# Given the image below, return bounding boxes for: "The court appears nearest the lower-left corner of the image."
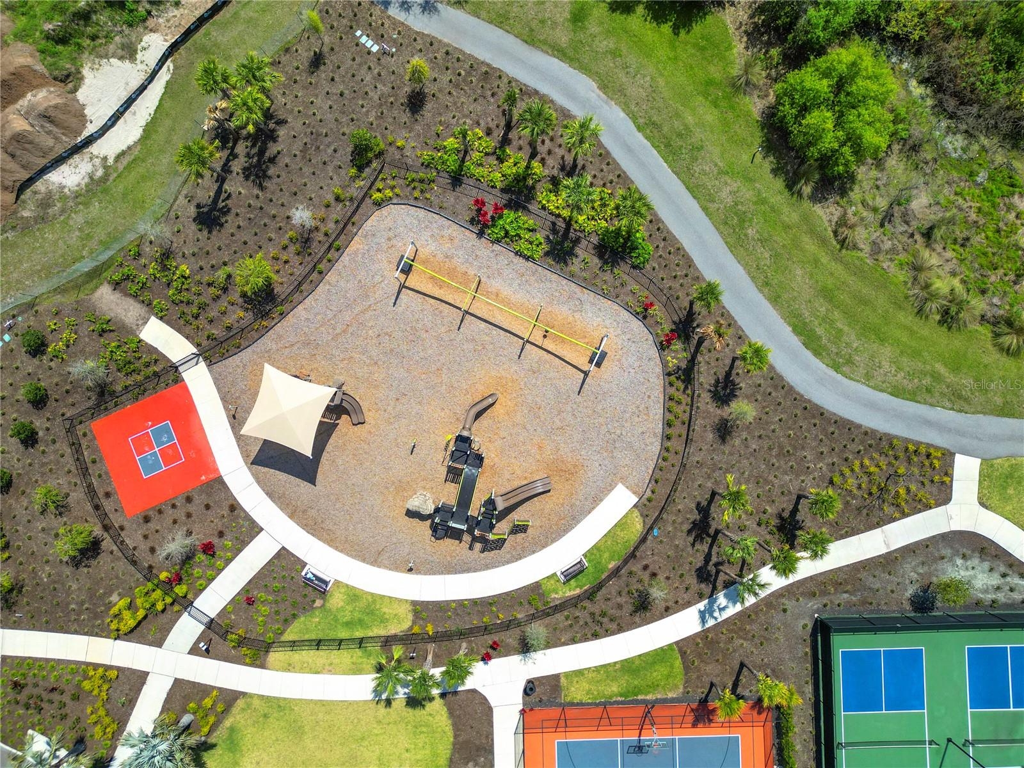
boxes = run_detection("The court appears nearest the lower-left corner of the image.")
[91,382,221,518]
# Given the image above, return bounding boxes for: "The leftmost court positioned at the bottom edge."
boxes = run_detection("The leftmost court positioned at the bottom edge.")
[524,704,770,768]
